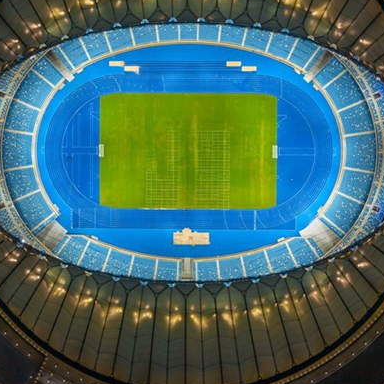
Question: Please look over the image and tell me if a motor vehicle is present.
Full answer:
No, no motor vehicle is visible in the scene.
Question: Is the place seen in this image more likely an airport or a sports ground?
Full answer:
This image shows a sports ground.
